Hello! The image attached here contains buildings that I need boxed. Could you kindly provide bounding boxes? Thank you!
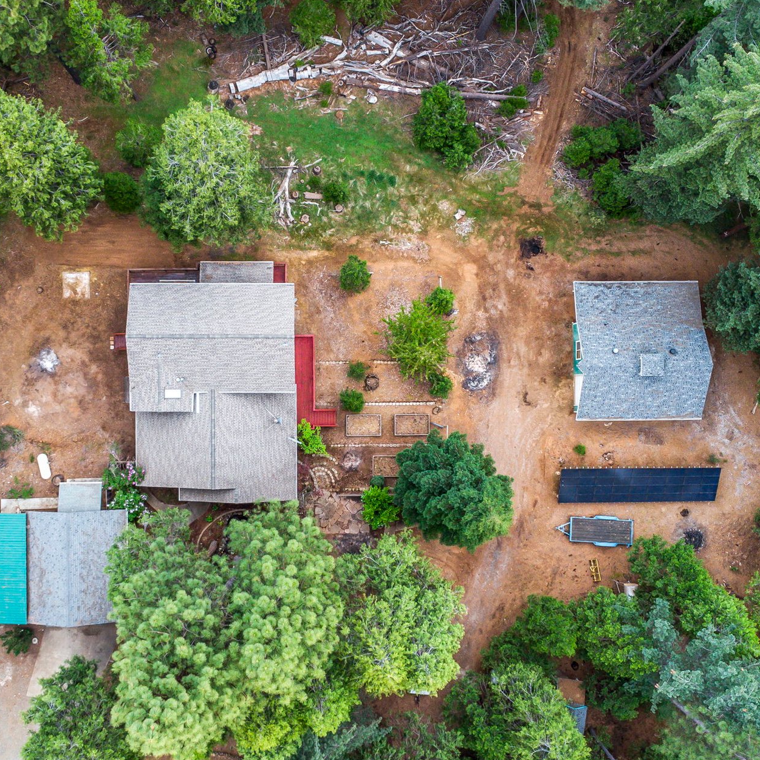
[124,262,301,504]
[27,510,129,628]
[571,280,717,422]
[557,679,588,737]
